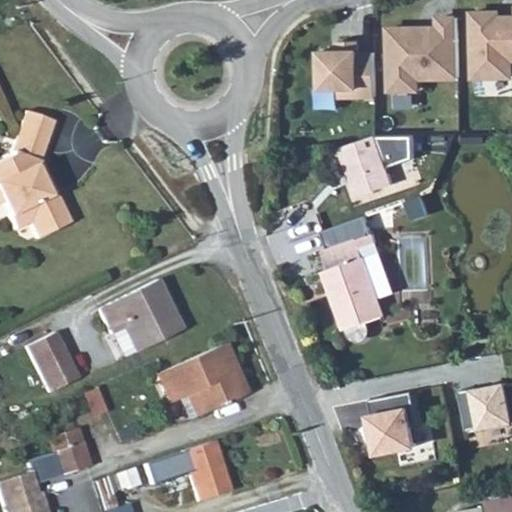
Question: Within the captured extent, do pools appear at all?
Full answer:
Yes, the image includes a pool.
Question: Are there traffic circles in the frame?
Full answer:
Yes, the photo shows a traffic circle.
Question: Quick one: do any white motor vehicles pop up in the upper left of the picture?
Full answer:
No, looking in the upper left of the picture, there is no white motor vehicle.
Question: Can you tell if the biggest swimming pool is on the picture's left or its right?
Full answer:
The biggest swimming pool sits on the right side.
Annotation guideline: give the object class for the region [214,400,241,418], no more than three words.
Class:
vehicle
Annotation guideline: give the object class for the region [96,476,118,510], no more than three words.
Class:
building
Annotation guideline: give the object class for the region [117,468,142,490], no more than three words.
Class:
shed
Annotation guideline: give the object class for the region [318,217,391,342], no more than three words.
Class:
house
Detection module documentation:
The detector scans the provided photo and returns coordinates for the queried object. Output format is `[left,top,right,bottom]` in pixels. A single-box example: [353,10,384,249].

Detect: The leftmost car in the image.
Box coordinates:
[6,328,30,345]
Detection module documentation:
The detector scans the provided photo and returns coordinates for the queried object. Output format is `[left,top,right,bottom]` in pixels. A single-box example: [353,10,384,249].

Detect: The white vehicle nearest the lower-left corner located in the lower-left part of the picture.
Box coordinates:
[46,480,70,494]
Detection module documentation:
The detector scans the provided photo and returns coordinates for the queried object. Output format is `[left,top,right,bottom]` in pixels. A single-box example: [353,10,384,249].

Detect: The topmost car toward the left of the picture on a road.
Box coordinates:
[186,138,202,160]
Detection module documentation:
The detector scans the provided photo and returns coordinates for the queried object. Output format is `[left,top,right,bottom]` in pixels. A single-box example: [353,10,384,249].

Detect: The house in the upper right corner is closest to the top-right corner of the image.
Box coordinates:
[464,10,512,82]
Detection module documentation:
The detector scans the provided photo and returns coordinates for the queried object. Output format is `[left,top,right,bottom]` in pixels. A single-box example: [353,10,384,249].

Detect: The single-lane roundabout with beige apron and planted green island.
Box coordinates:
[136,15,250,129]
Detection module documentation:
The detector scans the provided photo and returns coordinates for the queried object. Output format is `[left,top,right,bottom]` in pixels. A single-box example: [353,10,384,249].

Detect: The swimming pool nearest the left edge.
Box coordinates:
[397,232,432,292]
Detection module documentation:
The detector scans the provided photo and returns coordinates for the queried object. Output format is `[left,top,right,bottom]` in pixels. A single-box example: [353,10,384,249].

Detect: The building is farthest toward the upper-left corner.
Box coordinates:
[0,110,74,238]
